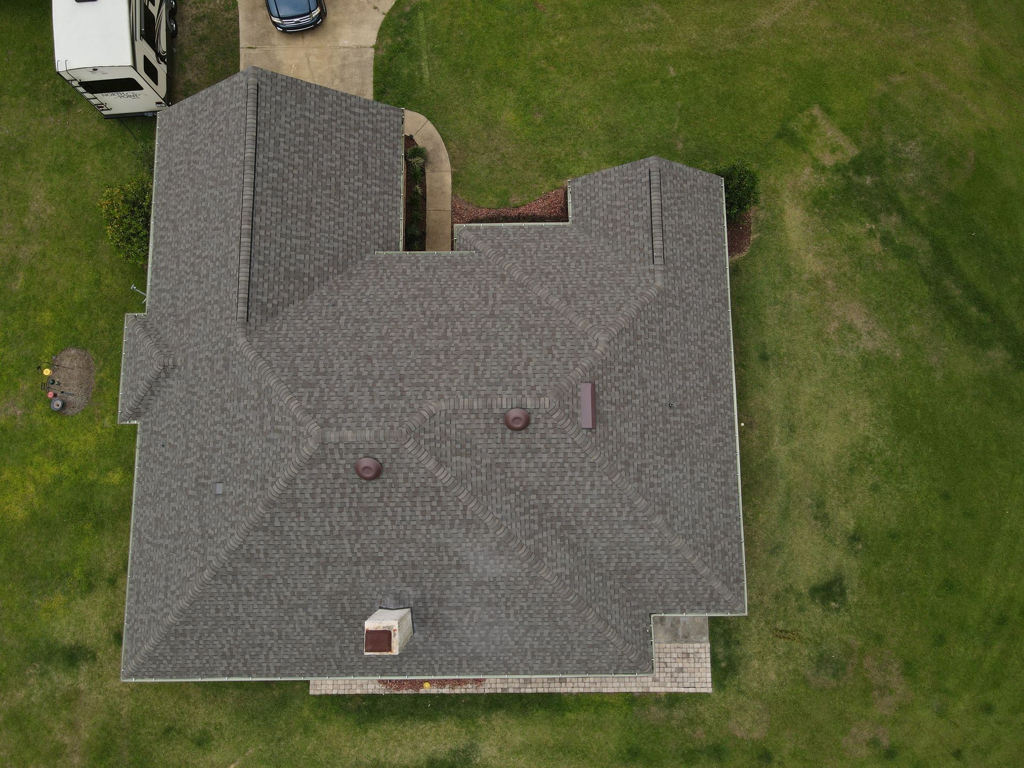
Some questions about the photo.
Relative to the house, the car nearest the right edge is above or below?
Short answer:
above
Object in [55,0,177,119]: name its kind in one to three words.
trailer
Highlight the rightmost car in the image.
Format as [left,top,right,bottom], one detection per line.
[266,0,324,37]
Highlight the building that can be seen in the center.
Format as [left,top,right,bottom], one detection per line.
[118,66,747,681]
